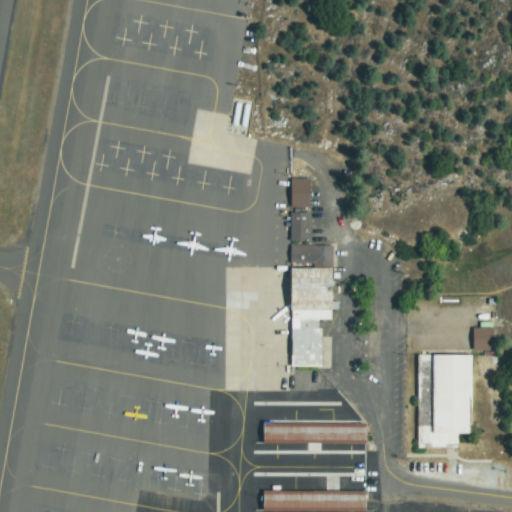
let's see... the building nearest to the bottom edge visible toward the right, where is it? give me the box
[264,492,367,512]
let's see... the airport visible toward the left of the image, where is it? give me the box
[0,0,368,512]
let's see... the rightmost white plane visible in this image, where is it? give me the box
[270,305,291,324]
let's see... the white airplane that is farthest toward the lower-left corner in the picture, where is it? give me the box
[153,464,177,482]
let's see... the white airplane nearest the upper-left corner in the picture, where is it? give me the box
[142,225,167,246]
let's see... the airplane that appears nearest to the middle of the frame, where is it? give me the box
[215,236,248,260]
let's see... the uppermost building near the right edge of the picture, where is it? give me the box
[474,328,494,350]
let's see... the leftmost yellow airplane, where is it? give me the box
[124,404,148,420]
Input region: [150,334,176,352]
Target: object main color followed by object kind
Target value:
white airplane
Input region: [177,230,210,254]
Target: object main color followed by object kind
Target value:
white airplane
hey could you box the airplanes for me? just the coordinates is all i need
[215,236,248,260]
[270,305,291,324]
[150,334,176,352]
[126,328,148,346]
[204,344,222,359]
[142,225,167,246]
[164,402,190,420]
[178,472,204,490]
[153,464,177,482]
[134,341,160,358]
[124,404,148,420]
[190,407,216,424]
[177,230,210,254]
